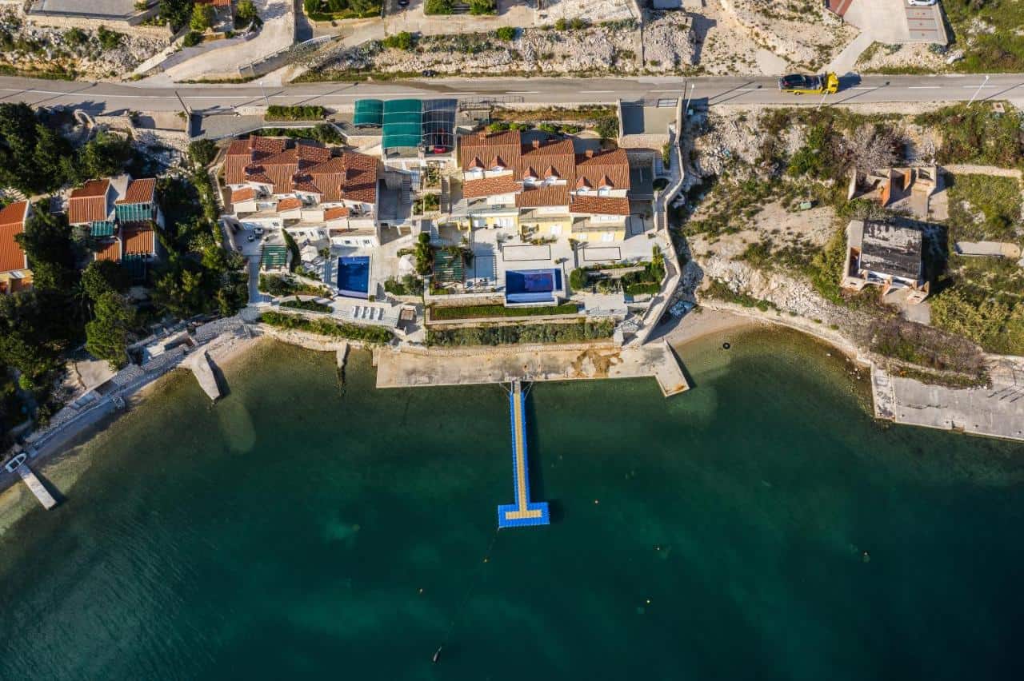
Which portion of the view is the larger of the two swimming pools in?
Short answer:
center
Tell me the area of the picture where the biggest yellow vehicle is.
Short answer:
top right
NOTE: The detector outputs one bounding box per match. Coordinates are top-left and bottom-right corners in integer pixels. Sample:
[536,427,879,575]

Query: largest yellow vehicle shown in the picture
[780,75,838,95]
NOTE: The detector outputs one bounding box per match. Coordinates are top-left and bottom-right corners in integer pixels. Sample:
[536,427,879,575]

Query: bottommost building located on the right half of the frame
[613,321,639,351]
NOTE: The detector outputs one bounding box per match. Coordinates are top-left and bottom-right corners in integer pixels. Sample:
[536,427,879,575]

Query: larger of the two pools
[503,266,565,311]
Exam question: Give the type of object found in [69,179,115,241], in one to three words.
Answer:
house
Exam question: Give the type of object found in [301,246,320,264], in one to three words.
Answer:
umbrella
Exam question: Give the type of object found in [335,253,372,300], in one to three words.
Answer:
swimming pool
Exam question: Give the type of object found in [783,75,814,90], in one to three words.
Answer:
car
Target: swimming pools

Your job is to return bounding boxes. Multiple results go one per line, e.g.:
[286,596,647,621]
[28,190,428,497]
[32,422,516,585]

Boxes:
[335,253,372,300]
[503,266,565,311]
